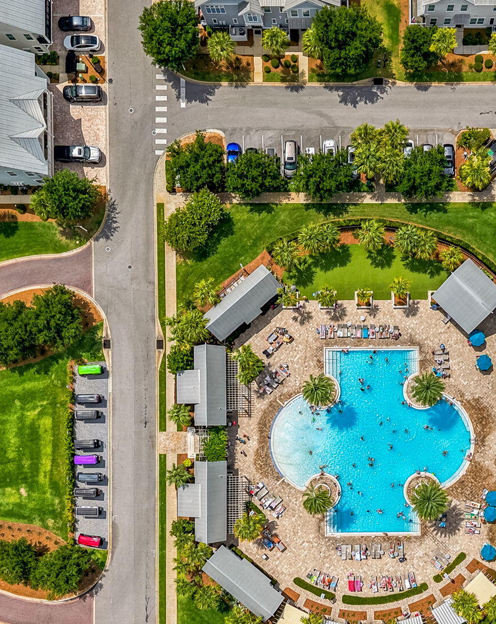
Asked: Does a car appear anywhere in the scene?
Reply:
Yes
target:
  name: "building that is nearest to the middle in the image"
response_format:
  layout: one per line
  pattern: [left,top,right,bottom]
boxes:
[206,265,282,341]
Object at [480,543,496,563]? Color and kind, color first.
blue umbrella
